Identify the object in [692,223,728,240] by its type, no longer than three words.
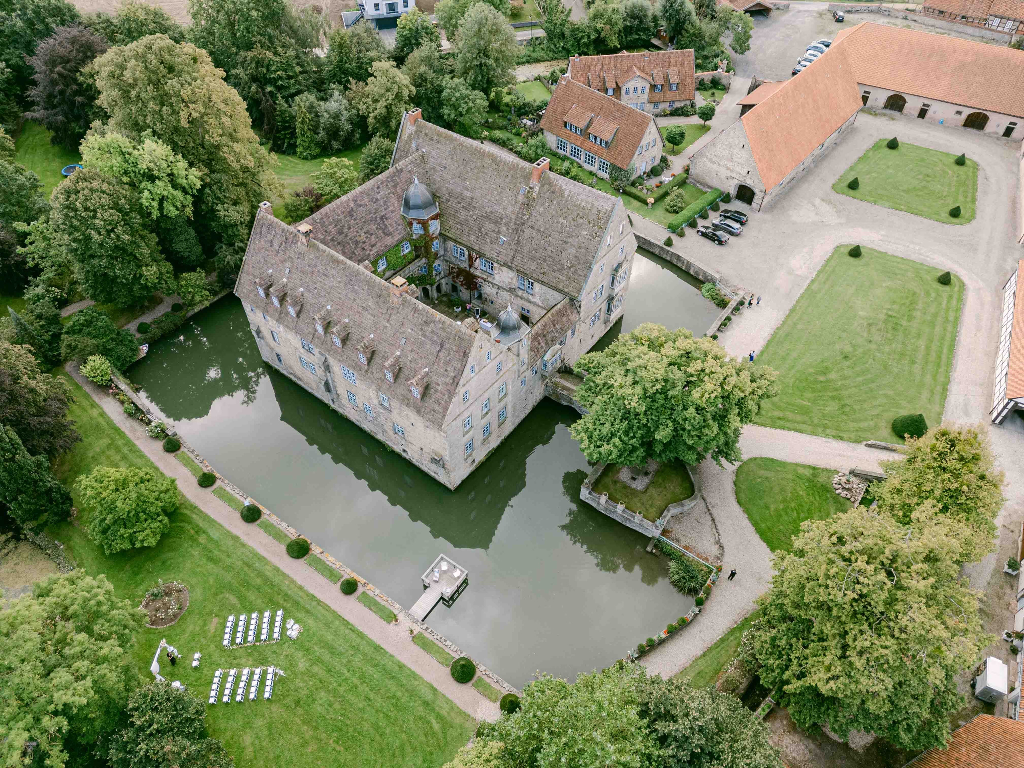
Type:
car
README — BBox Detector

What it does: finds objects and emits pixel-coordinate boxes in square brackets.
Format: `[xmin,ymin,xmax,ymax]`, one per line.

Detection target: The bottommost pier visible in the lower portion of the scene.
[411,555,474,625]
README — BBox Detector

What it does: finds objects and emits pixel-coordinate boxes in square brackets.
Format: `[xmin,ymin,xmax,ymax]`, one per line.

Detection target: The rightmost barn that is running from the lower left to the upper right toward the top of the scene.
[680,16,873,206]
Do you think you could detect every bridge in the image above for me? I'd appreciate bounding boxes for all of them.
[543,359,591,418]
